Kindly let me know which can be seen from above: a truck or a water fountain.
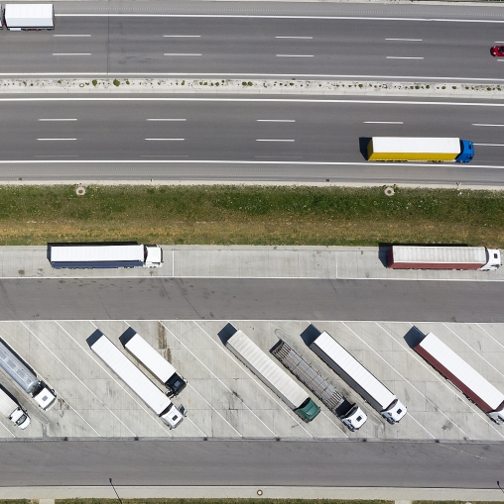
truck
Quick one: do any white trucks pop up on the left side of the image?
Yes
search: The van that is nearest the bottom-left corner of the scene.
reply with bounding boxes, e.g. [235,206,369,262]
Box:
[0,389,32,430]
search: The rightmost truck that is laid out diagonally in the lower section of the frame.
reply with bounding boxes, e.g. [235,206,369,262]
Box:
[413,333,504,425]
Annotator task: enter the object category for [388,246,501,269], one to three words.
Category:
truck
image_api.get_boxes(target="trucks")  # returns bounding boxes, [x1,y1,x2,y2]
[388,246,501,269]
[366,137,475,163]
[52,245,163,268]
[0,341,56,408]
[413,333,504,425]
[273,344,368,433]
[310,331,406,425]
[0,3,55,30]
[125,333,188,400]
[92,335,184,431]
[226,330,322,425]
